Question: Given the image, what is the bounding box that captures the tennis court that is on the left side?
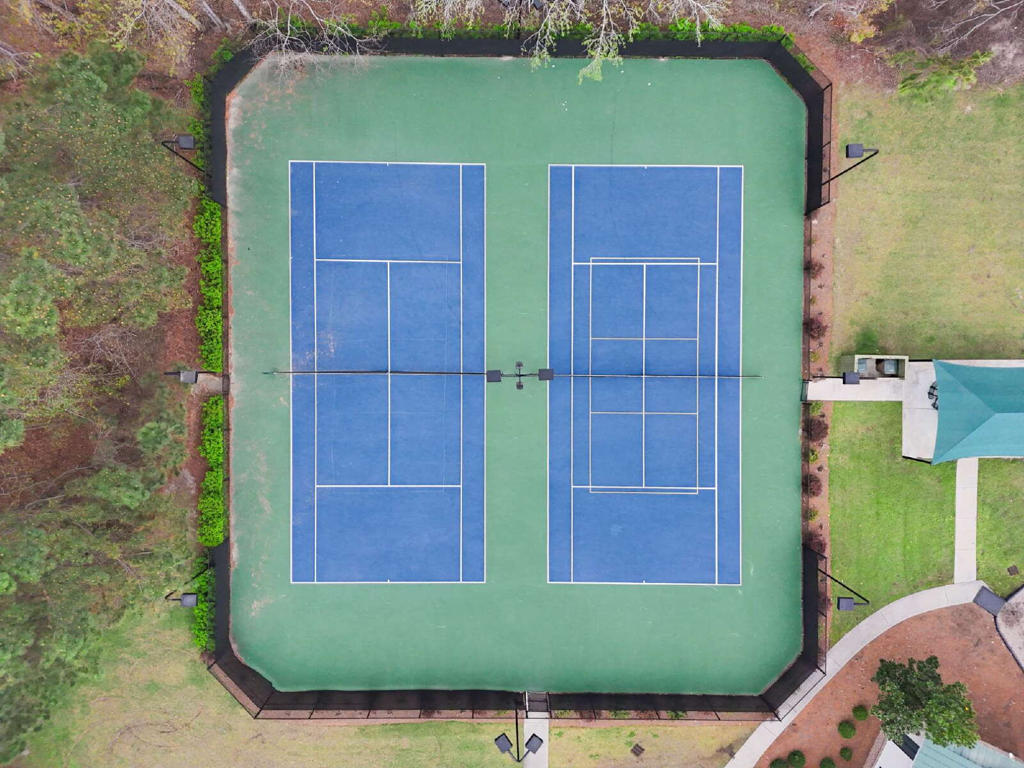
[228,57,520,692]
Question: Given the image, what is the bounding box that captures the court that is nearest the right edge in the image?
[520,59,806,694]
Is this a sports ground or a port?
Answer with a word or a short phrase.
sports ground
